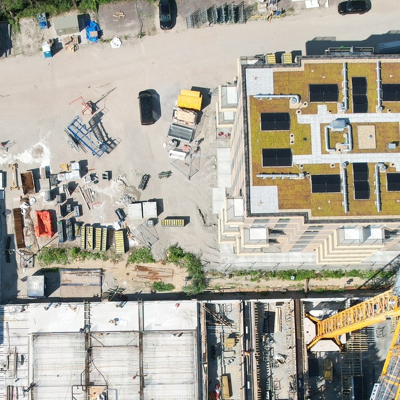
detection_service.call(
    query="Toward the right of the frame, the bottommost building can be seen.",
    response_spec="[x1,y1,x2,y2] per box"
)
[216,49,400,264]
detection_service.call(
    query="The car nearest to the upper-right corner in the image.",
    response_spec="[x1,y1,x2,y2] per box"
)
[338,0,367,15]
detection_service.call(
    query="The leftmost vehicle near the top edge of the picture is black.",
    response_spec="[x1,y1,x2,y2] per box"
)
[157,0,172,29]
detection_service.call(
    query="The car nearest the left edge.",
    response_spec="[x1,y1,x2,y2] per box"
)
[138,92,153,123]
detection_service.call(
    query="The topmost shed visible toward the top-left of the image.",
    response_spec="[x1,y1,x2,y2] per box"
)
[55,15,81,36]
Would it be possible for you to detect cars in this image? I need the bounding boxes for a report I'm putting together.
[338,0,367,15]
[157,0,172,29]
[138,92,153,123]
